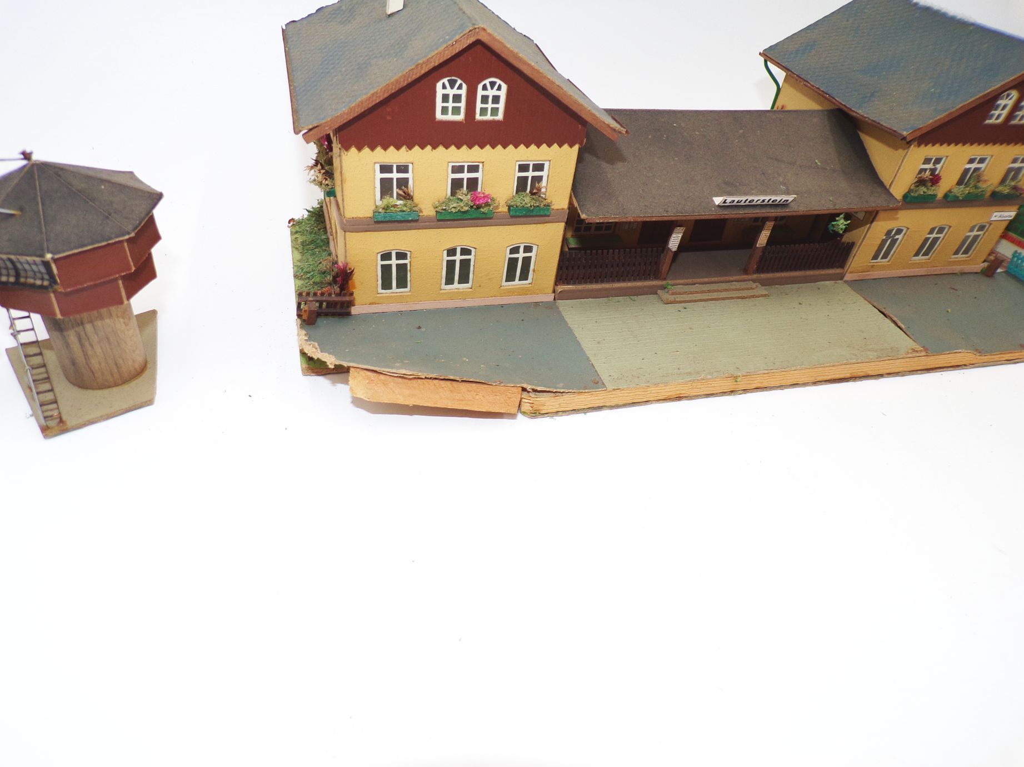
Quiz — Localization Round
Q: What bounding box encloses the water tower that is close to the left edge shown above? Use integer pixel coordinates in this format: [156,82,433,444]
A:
[0,144,164,442]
